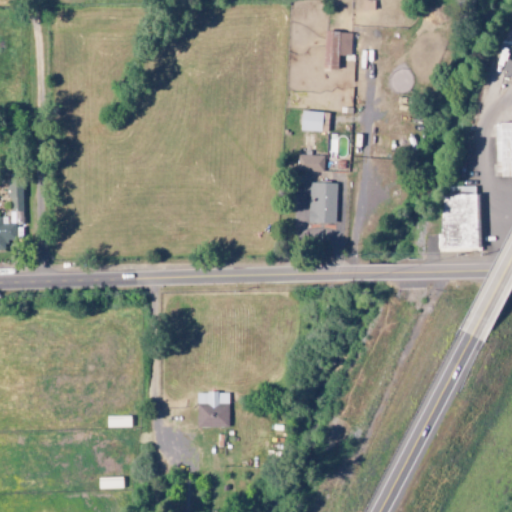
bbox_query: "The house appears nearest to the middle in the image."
[310,182,338,228]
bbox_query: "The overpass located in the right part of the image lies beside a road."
[461,230,512,345]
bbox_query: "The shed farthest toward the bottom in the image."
[100,476,124,490]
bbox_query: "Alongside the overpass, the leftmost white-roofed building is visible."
[439,194,482,250]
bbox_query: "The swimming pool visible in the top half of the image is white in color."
[331,134,350,158]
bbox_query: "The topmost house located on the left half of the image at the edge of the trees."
[10,178,24,212]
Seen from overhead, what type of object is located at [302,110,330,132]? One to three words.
barn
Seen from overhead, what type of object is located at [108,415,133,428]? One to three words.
shed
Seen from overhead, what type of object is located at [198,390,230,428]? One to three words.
house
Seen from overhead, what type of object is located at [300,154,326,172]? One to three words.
house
